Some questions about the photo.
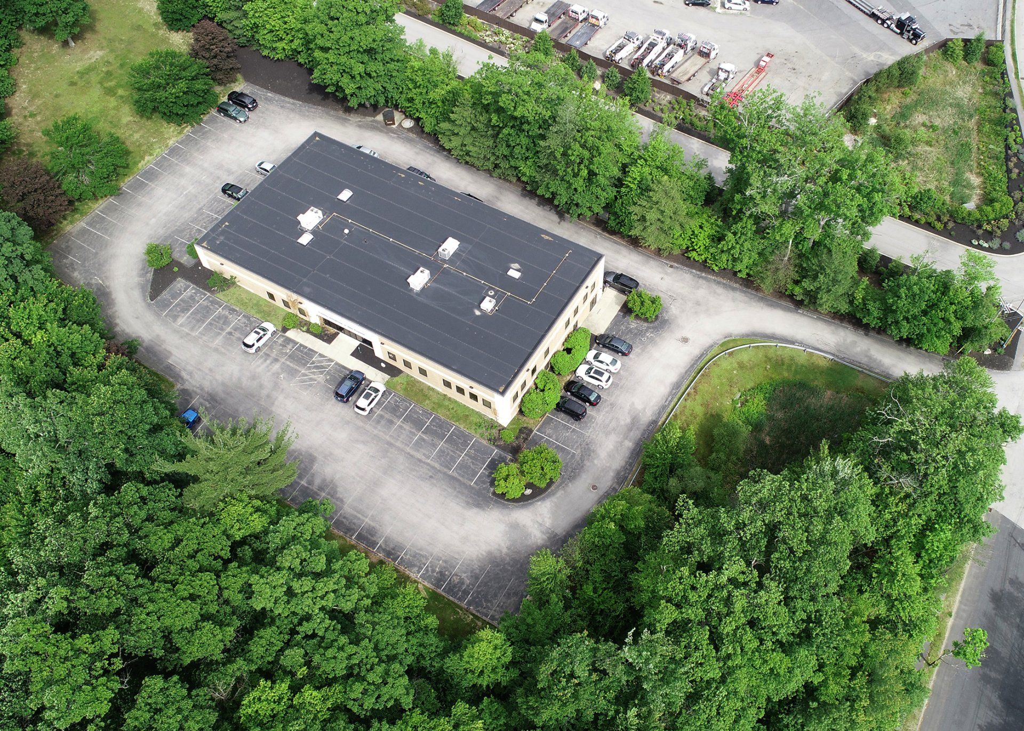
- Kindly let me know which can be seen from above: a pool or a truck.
truck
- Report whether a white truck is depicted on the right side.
Yes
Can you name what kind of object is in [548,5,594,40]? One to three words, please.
truck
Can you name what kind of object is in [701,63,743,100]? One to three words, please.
vehicle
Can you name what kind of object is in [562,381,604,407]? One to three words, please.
car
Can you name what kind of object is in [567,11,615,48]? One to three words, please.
truck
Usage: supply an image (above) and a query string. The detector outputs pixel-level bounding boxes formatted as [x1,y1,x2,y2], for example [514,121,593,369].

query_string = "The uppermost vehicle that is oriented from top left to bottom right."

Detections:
[859,0,931,44]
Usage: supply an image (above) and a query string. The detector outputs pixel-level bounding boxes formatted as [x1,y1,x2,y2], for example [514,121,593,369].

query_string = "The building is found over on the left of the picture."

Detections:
[194,131,606,427]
